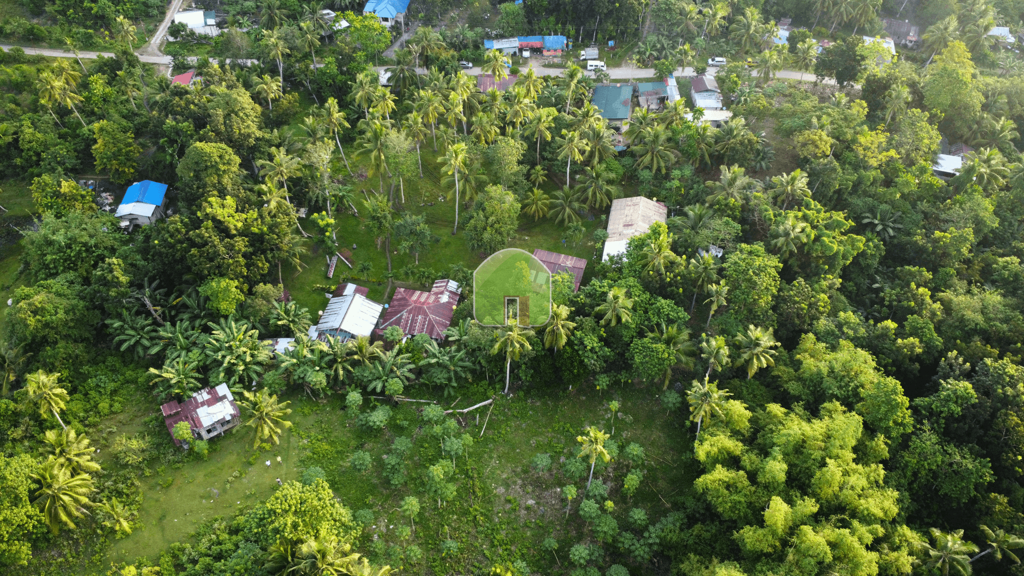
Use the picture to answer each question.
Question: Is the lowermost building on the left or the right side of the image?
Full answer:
The lowermost building sits on the left side.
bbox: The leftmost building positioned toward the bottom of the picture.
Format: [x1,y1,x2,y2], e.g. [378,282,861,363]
[161,383,243,455]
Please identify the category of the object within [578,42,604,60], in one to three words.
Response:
vehicle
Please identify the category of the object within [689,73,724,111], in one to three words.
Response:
house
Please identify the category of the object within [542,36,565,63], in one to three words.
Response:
building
